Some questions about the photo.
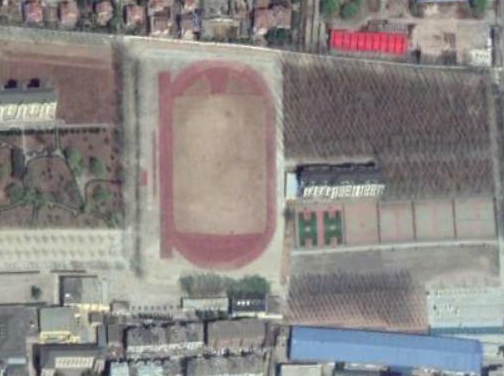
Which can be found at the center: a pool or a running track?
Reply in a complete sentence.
Looking at the center, you will find a running track.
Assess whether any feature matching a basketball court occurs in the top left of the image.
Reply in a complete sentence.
No, no basketball court can be made out in the top left of the image.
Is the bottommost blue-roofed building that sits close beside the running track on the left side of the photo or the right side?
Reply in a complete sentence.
It is on the right.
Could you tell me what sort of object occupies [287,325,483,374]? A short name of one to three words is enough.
building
